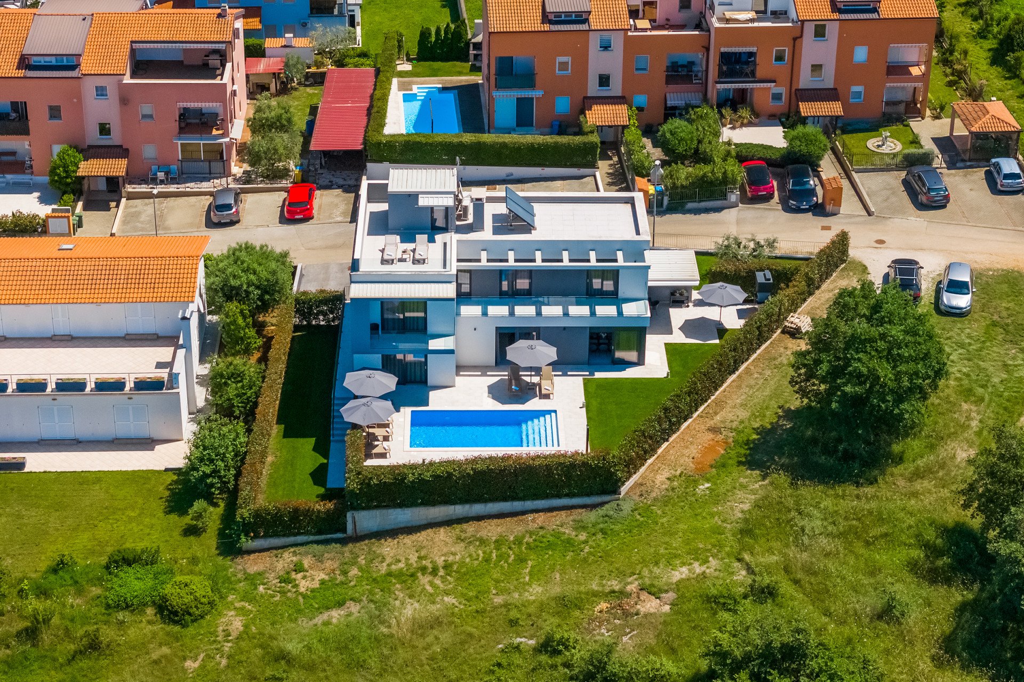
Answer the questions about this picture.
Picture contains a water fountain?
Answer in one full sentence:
Yes, this view includes a water fountain.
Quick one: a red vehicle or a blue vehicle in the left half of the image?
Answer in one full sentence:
There is a red vehicle in the left half of the image.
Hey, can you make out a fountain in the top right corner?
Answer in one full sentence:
Yes, a fountain appears in the top right corner.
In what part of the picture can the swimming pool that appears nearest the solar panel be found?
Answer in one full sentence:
Look in the top portion of the view to spot the swimming pool that appears nearest the solar panel.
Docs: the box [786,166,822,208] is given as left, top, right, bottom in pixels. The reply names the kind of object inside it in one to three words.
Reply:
car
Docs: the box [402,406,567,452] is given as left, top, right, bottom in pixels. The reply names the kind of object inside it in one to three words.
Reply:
swimming pool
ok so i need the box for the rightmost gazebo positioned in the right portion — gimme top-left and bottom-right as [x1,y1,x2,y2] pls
[950,87,1021,169]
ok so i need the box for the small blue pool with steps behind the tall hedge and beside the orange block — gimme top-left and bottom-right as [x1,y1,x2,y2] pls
[392,82,492,134]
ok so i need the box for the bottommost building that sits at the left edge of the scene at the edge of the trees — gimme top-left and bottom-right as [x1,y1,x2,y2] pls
[0,234,207,444]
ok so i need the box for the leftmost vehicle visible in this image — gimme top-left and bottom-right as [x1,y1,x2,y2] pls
[209,184,243,220]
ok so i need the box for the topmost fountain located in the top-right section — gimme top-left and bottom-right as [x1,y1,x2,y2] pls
[866,129,903,154]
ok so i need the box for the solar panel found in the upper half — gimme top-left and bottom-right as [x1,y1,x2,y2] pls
[505,187,535,231]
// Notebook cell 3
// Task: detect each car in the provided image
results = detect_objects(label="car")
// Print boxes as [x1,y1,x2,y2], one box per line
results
[940,265,976,314]
[890,260,927,306]
[209,184,243,220]
[786,166,822,208]
[997,157,1024,189]
[911,168,956,205]
[743,163,776,198]
[283,182,317,217]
